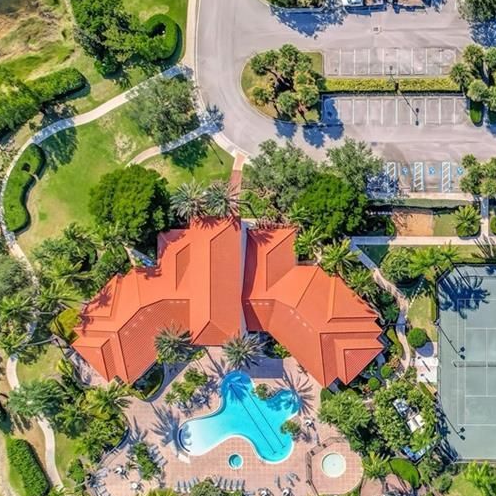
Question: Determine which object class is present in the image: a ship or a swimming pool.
swimming pool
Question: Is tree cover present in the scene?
Yes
